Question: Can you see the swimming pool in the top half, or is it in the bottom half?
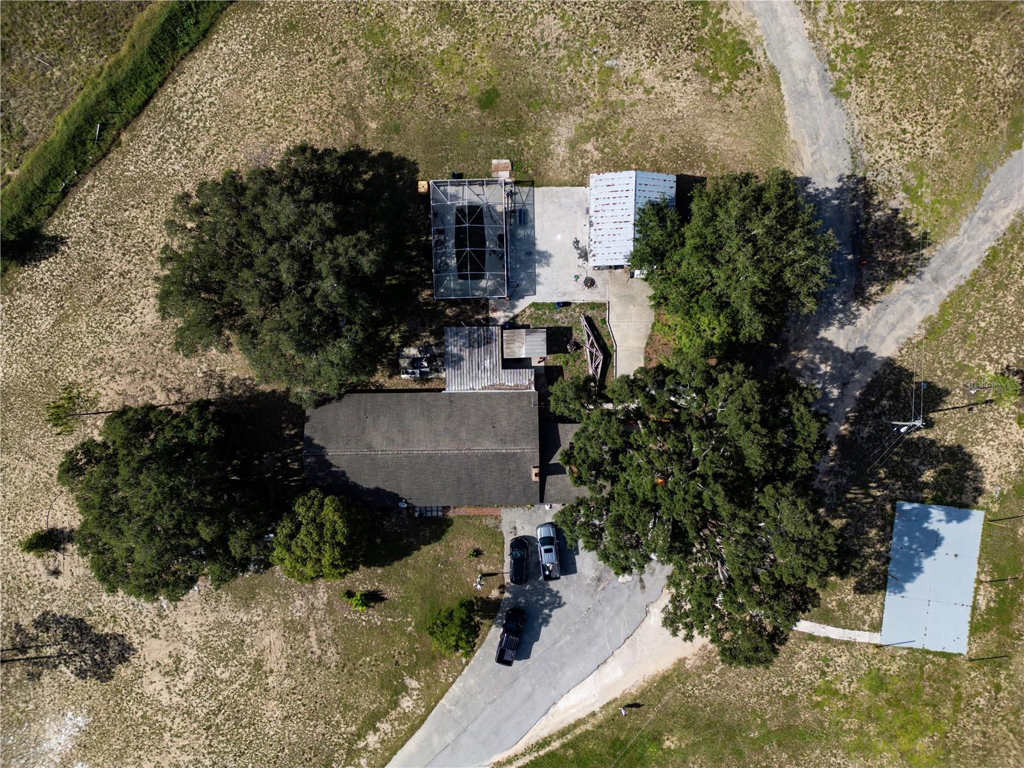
top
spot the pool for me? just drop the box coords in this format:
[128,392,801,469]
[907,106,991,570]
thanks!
[452,203,488,282]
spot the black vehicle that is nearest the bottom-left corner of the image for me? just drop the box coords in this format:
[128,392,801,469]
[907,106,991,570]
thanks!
[495,608,524,671]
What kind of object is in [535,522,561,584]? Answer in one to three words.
truck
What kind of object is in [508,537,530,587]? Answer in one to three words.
car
